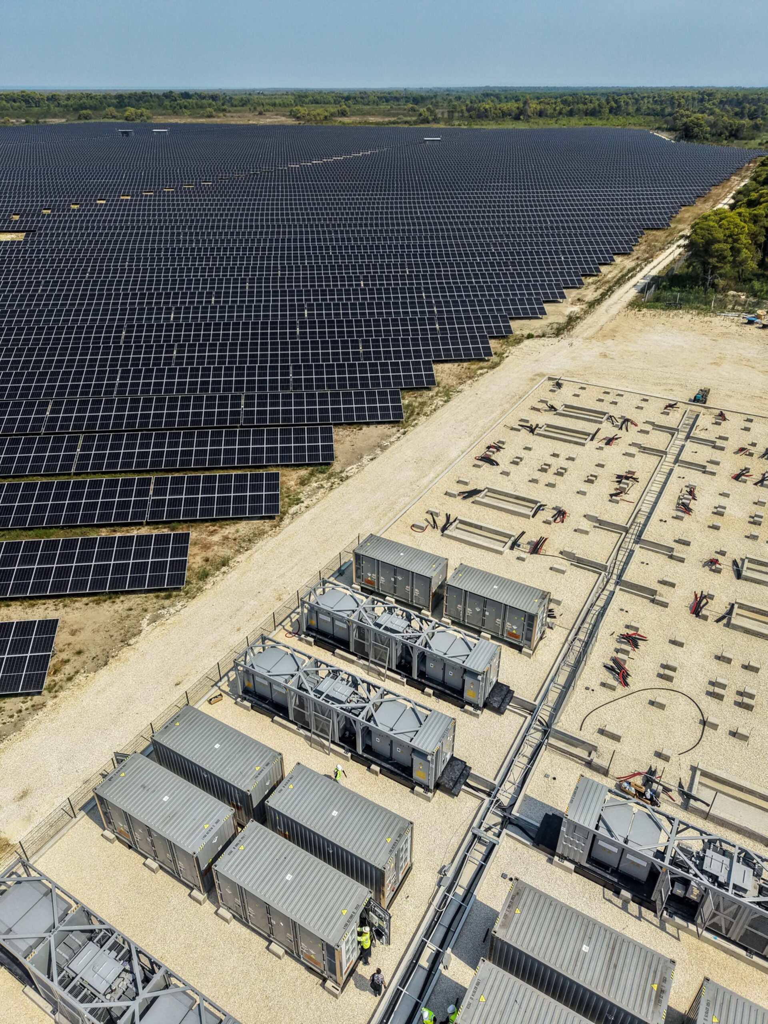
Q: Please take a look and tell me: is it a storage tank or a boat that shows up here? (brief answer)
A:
storage tank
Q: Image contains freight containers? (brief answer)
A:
Yes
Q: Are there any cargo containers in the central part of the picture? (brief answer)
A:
Yes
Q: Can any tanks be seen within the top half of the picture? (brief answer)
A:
No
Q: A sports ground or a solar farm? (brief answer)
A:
solar farm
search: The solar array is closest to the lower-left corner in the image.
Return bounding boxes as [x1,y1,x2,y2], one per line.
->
[0,619,59,693]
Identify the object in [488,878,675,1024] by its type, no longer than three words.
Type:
shipping container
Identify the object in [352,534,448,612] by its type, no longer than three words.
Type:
shipping container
